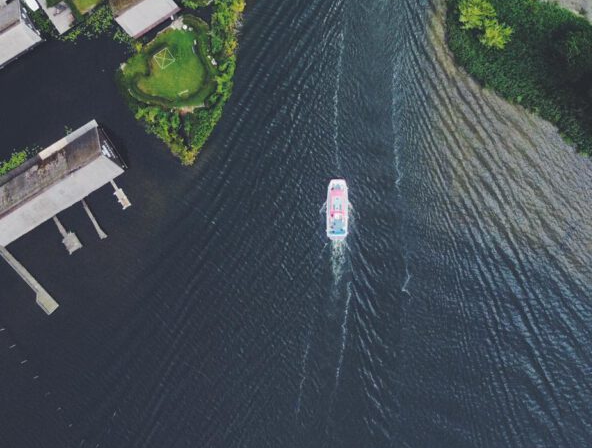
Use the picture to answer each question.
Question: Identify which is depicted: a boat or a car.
boat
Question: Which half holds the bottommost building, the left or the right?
left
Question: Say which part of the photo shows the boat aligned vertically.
center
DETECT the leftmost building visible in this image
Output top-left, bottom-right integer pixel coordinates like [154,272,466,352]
[0,0,46,67]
